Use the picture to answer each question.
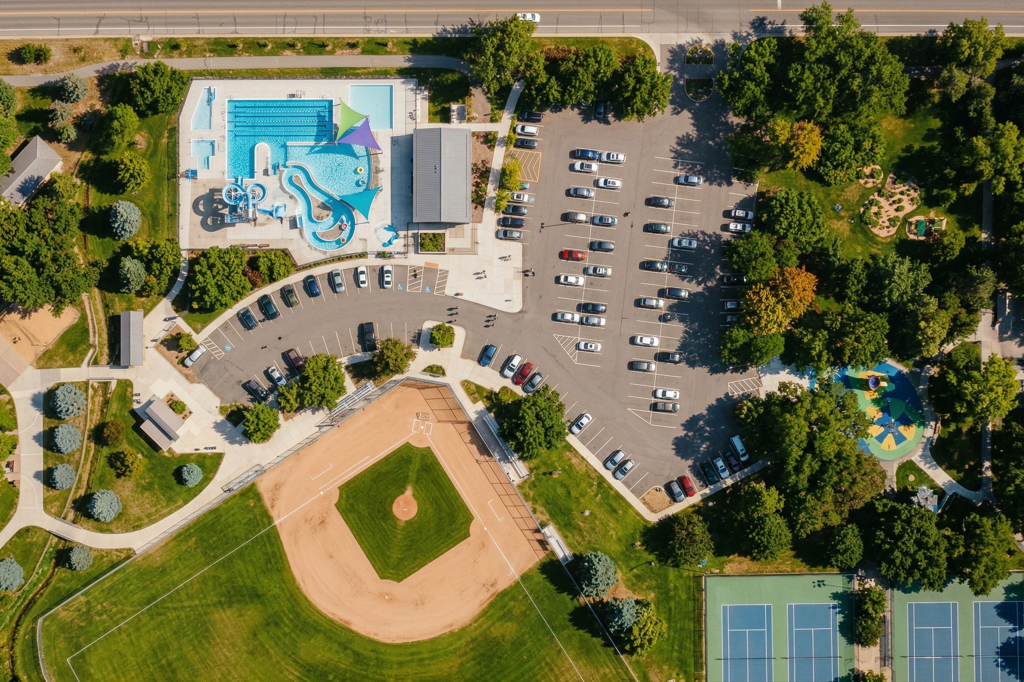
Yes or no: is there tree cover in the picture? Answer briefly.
Yes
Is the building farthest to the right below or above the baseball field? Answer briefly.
above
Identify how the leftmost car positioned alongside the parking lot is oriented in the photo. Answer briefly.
at an angle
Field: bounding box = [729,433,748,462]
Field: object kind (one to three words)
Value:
vehicle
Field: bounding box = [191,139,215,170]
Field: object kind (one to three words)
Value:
swimming pool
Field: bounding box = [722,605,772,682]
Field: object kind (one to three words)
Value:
tennis court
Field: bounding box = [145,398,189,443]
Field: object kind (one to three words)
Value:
shed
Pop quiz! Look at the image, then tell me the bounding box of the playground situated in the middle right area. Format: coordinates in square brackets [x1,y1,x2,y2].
[808,360,926,462]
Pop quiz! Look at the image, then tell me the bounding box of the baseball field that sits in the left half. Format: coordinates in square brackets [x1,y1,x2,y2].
[37,380,637,682]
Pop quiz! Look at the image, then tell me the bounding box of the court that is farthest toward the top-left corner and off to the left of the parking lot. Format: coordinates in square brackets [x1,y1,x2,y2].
[0,304,81,365]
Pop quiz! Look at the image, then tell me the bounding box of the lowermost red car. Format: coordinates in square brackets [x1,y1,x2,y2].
[679,474,696,498]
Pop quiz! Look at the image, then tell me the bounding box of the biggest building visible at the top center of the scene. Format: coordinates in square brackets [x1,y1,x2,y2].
[413,127,471,230]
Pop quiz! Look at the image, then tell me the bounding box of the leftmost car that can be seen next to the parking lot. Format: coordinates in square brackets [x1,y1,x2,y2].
[186,345,206,367]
